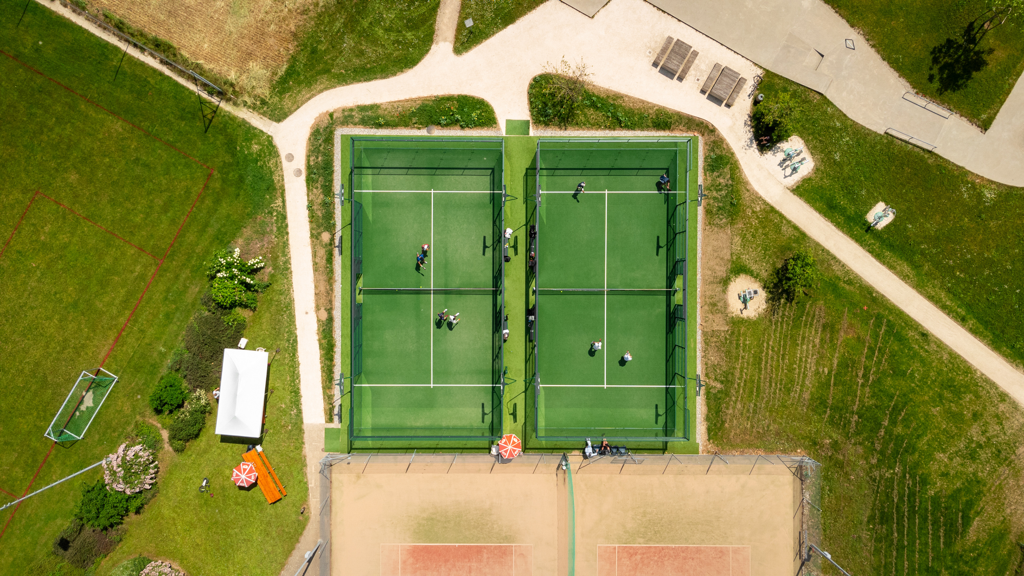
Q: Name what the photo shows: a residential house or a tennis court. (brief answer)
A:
tennis court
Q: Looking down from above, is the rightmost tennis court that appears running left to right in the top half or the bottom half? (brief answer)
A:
bottom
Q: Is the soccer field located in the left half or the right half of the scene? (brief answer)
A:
left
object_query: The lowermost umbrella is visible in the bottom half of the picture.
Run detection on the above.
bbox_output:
[232,463,257,488]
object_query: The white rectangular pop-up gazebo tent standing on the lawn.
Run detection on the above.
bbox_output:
[216,348,280,437]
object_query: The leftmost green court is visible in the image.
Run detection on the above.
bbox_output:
[349,135,504,441]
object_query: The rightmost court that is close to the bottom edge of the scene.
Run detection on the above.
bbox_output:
[558,454,802,576]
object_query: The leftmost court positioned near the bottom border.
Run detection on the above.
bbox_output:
[330,455,558,576]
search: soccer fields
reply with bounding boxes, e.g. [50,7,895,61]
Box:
[0,0,239,576]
